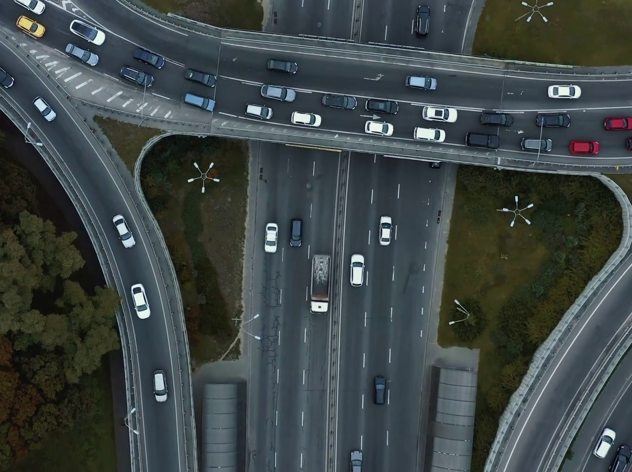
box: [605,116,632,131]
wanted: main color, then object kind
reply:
red car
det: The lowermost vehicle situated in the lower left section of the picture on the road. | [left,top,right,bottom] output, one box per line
[153,370,169,402]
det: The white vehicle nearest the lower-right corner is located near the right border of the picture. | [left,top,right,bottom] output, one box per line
[593,428,615,458]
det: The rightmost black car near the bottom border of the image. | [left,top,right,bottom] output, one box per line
[608,445,631,472]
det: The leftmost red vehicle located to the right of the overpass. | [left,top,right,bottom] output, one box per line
[569,140,600,155]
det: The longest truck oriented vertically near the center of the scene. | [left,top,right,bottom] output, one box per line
[308,254,331,313]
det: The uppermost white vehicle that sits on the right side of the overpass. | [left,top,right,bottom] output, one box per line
[548,84,581,99]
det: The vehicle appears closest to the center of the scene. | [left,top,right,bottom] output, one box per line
[288,218,304,248]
